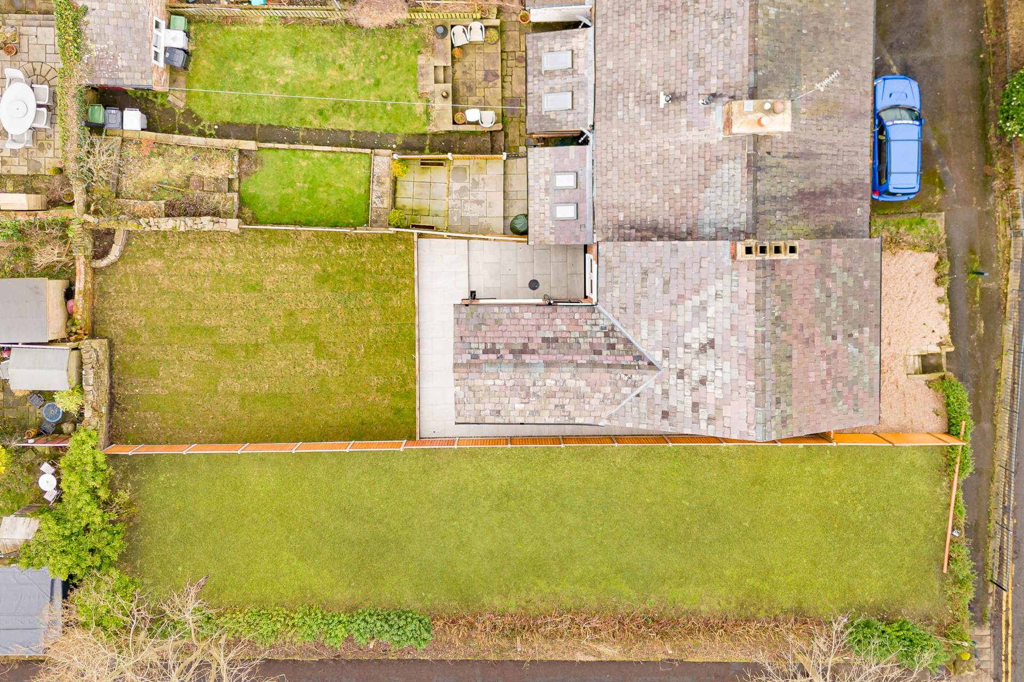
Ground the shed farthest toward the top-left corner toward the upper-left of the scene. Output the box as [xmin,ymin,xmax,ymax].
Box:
[76,0,171,92]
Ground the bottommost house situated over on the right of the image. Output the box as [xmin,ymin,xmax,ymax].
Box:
[451,238,884,442]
